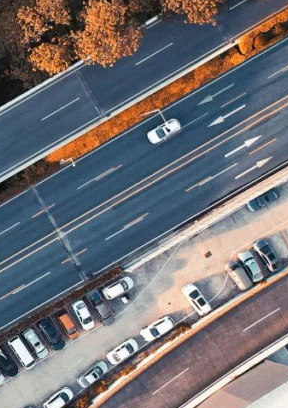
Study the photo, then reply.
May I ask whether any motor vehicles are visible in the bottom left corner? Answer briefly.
Yes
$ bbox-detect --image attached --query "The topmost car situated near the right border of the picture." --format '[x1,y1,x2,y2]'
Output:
[244,188,278,213]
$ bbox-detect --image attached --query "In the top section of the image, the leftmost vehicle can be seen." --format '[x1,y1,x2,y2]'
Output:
[145,118,180,144]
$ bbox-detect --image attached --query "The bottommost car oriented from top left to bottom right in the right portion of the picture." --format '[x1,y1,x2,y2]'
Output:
[181,283,209,316]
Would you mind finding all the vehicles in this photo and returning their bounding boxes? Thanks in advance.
[55,308,79,339]
[105,338,138,364]
[181,283,209,316]
[145,118,180,144]
[74,361,107,388]
[244,188,278,213]
[4,330,34,370]
[69,297,95,331]
[0,344,18,378]
[99,275,133,300]
[41,386,73,408]
[37,316,64,349]
[235,249,263,283]
[250,238,279,271]
[22,326,48,359]
[87,289,115,324]
[138,314,172,340]
[222,259,252,292]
